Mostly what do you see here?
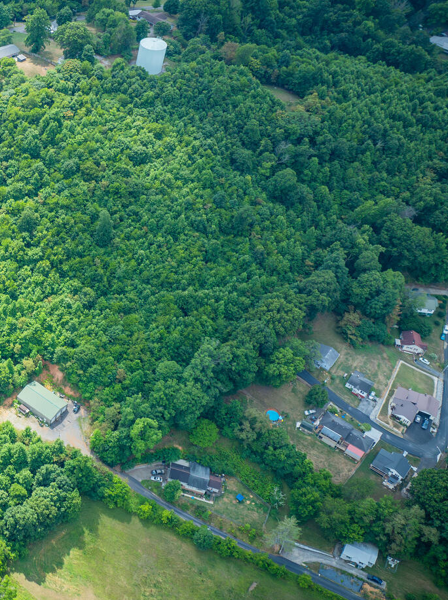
trees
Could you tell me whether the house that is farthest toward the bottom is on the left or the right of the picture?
right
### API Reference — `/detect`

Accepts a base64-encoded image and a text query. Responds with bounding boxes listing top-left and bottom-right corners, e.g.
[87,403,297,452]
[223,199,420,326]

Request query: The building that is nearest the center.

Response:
[299,344,349,381]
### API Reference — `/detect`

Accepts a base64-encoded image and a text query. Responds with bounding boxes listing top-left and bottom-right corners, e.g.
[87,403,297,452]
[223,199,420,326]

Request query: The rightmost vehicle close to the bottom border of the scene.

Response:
[364,571,385,587]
